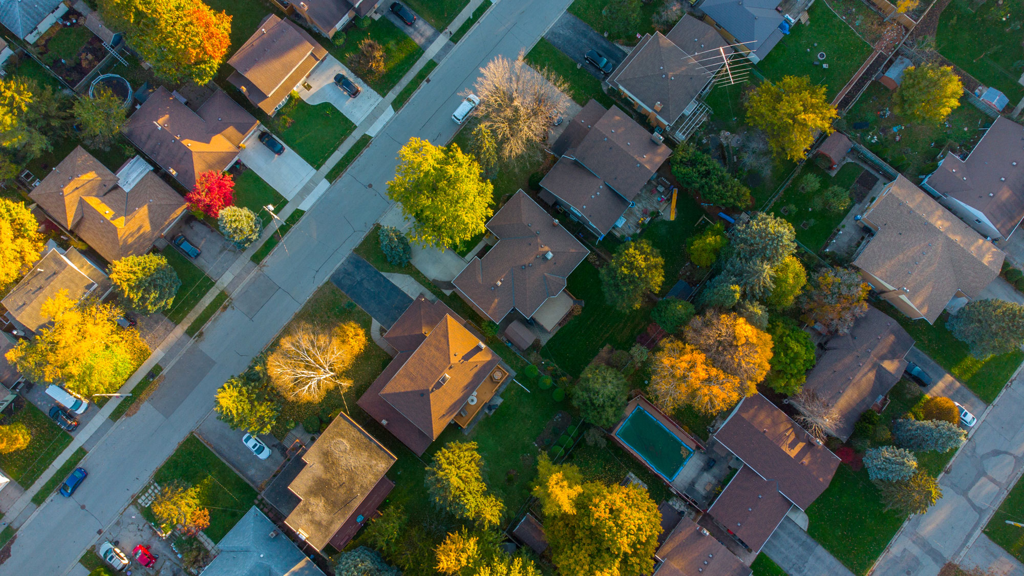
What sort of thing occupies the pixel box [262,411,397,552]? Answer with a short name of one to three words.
house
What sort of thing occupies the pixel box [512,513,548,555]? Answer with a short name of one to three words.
shed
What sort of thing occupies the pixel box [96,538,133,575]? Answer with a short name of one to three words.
car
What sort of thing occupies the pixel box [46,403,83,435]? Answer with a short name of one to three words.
truck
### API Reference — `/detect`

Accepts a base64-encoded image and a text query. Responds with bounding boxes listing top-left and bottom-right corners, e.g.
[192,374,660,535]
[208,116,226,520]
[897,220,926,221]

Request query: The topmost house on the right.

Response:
[696,0,786,62]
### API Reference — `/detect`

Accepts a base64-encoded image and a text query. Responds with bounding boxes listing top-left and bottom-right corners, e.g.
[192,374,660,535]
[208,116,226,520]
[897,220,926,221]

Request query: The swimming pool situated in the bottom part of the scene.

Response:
[610,395,706,487]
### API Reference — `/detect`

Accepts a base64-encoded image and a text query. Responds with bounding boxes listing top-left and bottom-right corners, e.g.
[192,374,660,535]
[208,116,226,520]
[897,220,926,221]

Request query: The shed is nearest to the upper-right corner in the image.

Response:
[972,87,1010,115]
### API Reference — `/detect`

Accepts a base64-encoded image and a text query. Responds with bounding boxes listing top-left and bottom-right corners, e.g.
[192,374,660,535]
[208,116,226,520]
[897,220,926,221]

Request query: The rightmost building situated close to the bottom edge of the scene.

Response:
[705,391,842,554]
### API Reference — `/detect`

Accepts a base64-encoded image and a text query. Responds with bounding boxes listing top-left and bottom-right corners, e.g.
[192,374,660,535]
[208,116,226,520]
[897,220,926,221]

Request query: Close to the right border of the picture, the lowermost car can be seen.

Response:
[954,400,980,431]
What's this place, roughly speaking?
residential area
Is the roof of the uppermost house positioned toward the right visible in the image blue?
Yes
